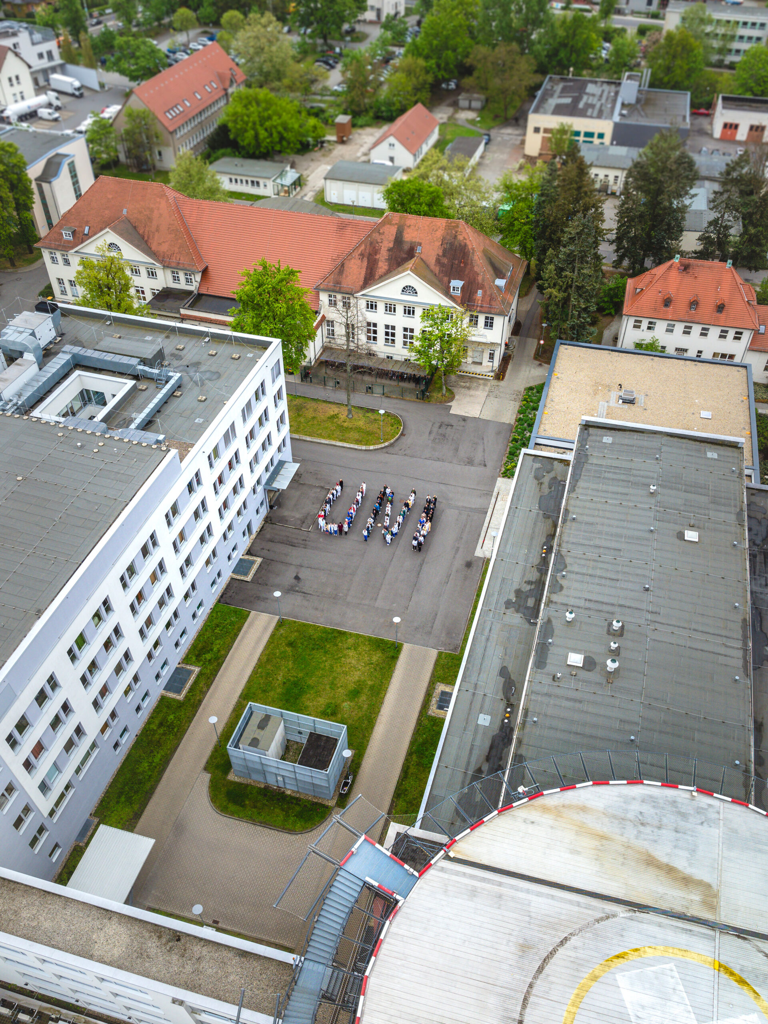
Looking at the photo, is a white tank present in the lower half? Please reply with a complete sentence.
No, the scene shows no white tank in the lower half.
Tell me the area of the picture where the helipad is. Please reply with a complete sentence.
The helipad sits in the bottom right section of the image.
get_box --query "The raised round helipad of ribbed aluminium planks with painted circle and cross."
[352,778,768,1024]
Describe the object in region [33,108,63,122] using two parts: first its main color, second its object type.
white vehicle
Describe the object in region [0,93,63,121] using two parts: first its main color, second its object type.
white truck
